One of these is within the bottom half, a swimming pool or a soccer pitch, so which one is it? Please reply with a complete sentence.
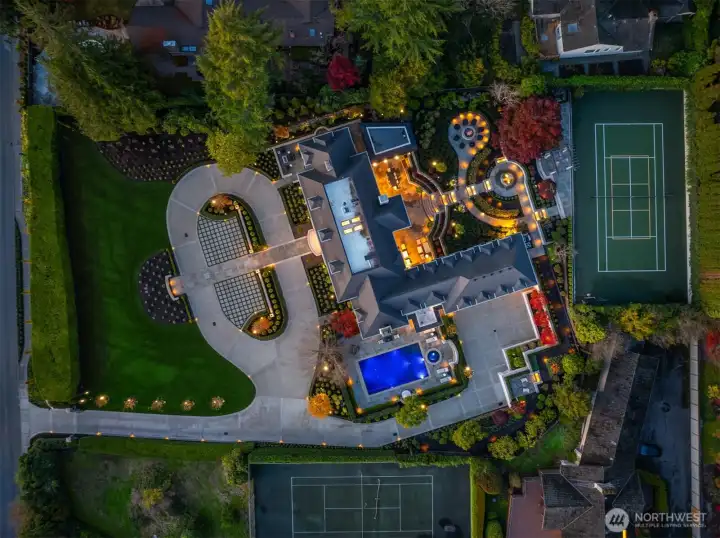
The one visible within the bottom half is a swimming pool.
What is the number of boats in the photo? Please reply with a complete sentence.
The picture shows no boats.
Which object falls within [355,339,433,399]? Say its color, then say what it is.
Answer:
blue swimming pool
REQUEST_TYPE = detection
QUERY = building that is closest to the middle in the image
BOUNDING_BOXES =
[297,122,539,340]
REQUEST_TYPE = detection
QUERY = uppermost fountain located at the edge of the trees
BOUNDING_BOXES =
[497,170,515,188]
